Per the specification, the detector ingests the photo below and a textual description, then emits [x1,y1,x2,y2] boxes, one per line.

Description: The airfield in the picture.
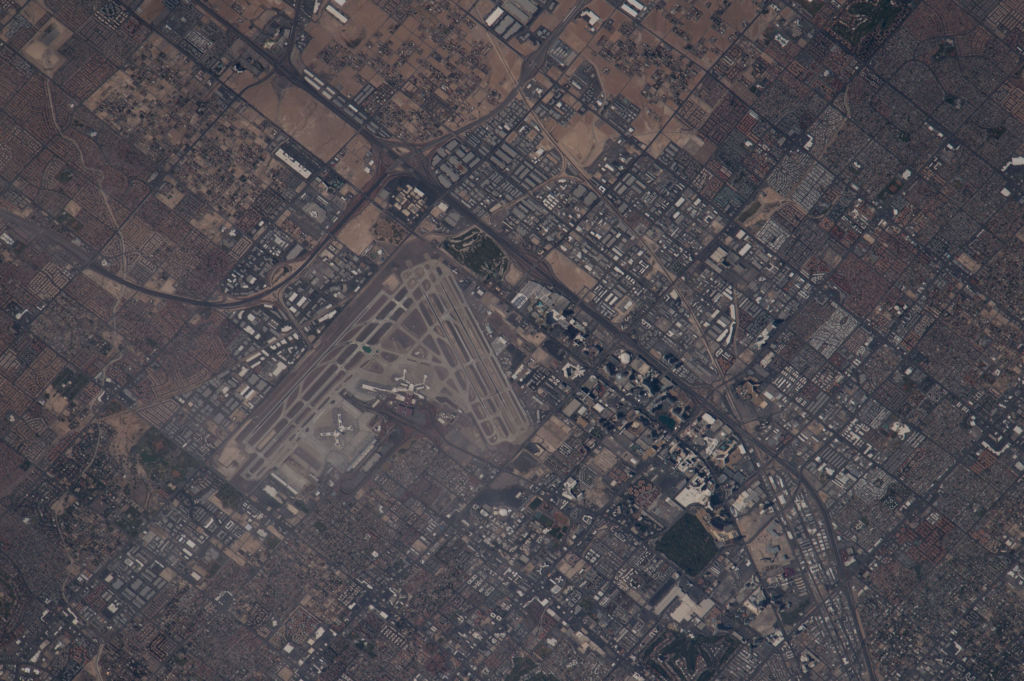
[206,235,537,496]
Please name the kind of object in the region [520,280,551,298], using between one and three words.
building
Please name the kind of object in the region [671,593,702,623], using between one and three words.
building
